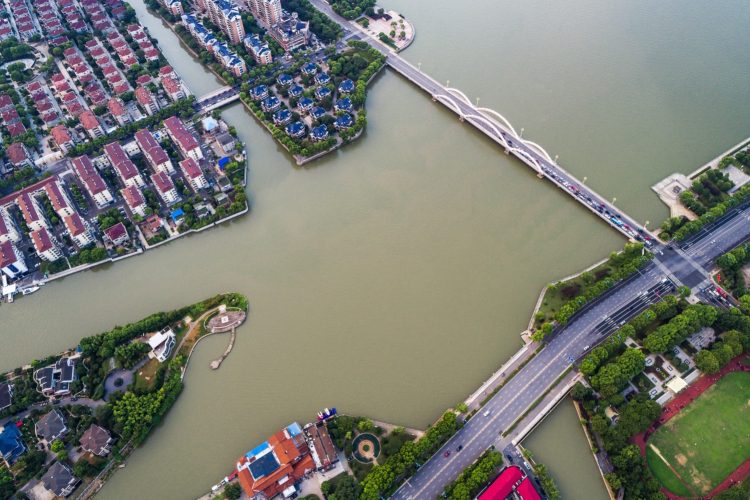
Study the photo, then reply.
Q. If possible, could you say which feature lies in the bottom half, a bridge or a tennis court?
bridge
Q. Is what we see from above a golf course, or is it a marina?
marina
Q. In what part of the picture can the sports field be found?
bottom right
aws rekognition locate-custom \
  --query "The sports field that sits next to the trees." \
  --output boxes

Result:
[635,351,750,500]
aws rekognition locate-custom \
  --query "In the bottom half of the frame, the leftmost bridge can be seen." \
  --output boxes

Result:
[464,343,585,449]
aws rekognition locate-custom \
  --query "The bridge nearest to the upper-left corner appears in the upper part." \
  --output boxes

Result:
[196,85,241,113]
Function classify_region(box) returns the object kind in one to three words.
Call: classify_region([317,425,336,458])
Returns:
house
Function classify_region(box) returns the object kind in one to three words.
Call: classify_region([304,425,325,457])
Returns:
house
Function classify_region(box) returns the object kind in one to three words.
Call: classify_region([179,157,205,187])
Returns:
building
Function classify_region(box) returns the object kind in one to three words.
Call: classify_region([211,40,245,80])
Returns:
building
